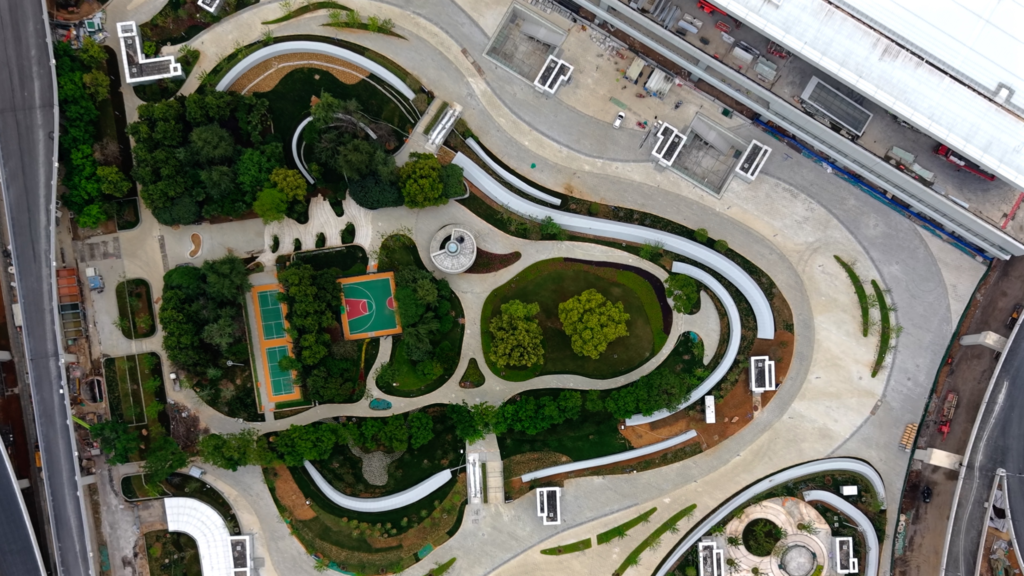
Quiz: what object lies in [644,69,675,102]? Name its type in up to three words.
shed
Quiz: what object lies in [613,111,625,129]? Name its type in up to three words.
vehicle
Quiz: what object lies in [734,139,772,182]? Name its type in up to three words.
building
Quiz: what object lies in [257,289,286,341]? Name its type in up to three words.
sports court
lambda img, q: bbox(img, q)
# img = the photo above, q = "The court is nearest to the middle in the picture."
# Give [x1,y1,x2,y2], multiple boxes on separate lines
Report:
[337,271,398,340]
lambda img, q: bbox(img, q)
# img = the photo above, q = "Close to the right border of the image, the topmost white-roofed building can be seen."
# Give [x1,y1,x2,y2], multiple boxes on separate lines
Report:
[703,0,1024,195]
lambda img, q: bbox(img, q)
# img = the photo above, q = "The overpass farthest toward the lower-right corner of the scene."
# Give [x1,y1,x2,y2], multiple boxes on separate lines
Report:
[909,302,1024,576]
